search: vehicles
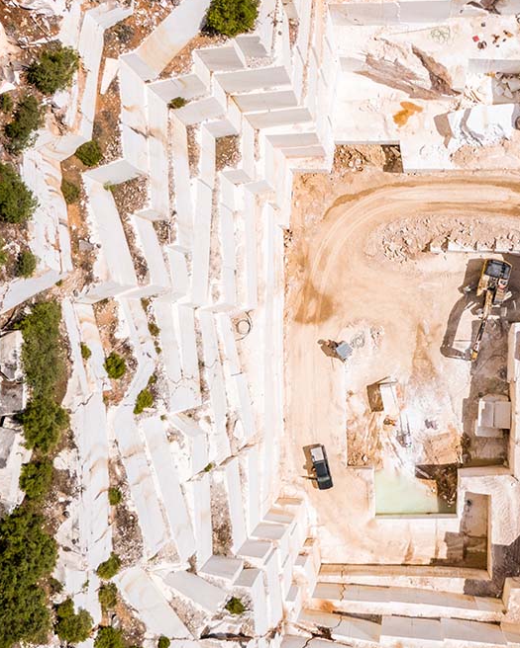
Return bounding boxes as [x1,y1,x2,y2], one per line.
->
[474,255,514,354]
[306,445,332,493]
